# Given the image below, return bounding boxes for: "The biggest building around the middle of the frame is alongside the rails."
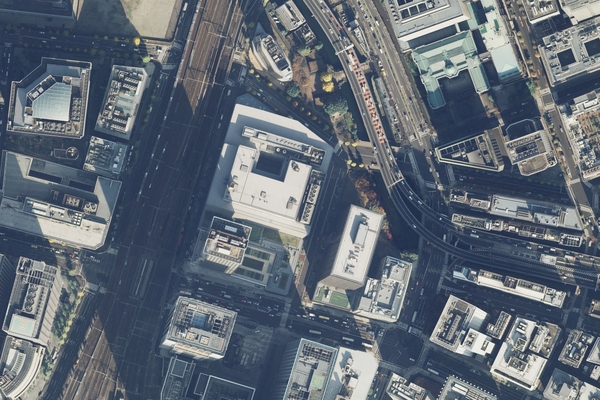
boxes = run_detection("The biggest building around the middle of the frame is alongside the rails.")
[204,104,334,242]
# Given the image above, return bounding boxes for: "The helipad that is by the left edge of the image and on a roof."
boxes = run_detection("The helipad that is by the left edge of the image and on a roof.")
[9,314,36,337]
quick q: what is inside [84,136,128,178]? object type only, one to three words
building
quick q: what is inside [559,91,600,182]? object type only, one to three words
building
